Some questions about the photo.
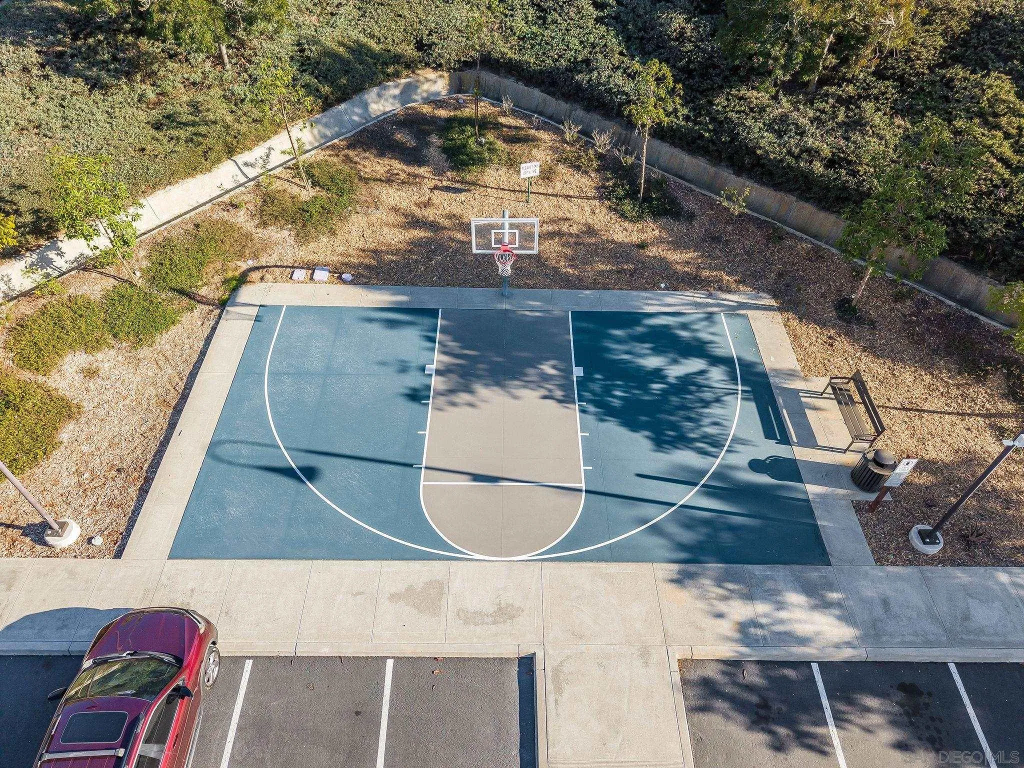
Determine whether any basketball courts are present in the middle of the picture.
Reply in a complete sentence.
Yes, a basketball court shows up in the middle of the picture.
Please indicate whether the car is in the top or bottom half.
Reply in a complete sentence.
The bottom half of the photo is where the car is.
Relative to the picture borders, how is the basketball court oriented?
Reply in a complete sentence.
The basketball court is laid out from left to right.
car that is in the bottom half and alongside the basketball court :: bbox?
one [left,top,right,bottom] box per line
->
[36,605,219,768]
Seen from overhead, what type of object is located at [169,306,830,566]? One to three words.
basketball court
